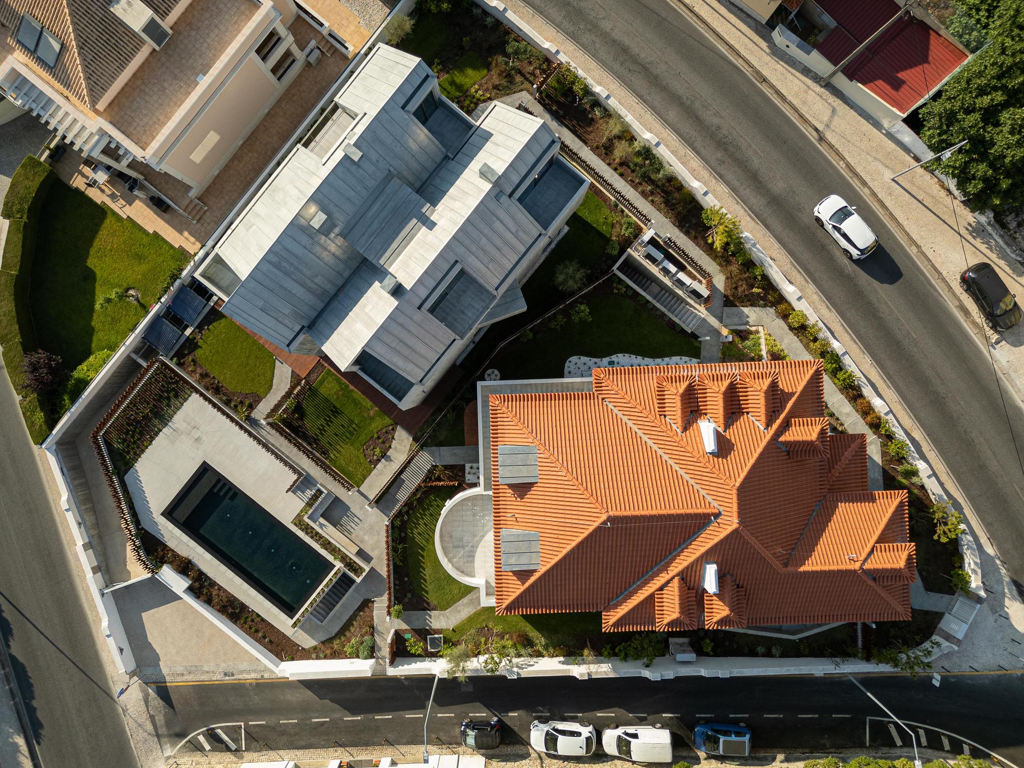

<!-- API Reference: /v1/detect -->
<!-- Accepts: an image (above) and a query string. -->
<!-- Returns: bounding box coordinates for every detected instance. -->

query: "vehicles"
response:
[602,724,675,766]
[693,721,755,758]
[817,193,882,259]
[962,264,1024,326]
[458,719,502,755]
[528,721,596,760]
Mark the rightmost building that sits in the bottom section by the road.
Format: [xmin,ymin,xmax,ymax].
[433,358,919,640]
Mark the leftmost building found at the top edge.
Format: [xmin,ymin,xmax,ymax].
[0,0,320,195]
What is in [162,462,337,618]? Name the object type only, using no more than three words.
swimming pool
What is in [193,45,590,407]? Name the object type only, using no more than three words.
house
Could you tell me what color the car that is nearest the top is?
white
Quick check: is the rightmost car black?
Yes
